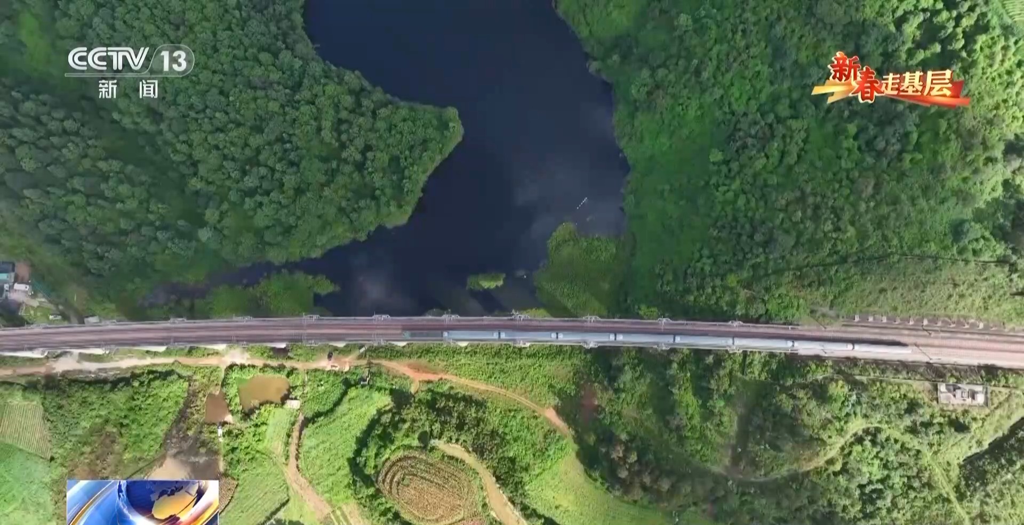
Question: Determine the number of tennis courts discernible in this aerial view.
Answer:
zero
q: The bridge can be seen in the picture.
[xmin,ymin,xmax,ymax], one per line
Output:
[0,314,796,361]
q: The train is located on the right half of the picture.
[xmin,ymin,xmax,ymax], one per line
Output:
[399,331,911,354]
